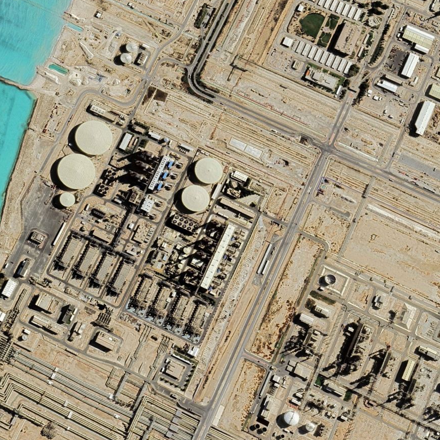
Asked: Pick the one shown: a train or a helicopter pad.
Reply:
train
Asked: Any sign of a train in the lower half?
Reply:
Yes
